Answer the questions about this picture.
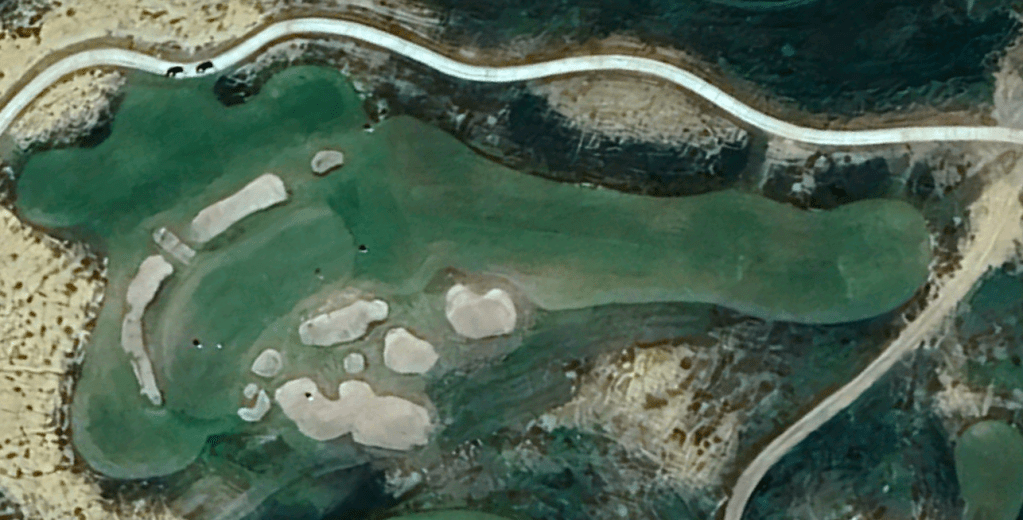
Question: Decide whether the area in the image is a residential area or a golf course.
golf course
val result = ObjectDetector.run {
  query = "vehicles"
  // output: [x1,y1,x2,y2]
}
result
[168,68,184,77]
[198,64,214,75]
